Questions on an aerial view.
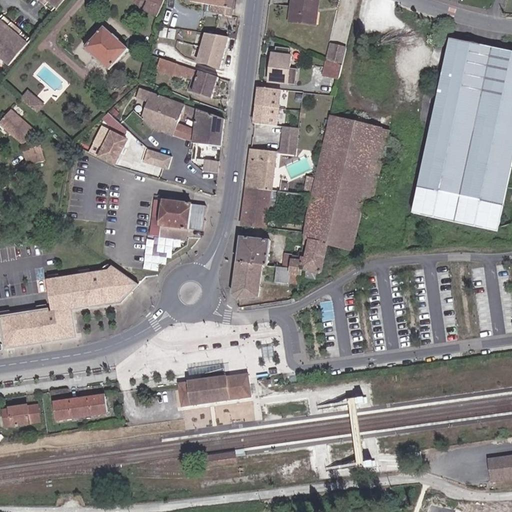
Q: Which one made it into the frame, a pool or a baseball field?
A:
pool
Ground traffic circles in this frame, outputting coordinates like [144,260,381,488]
[160,256,222,322]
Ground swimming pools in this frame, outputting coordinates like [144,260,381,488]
[34,62,70,104]
[274,150,313,188]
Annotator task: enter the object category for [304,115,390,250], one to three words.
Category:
barn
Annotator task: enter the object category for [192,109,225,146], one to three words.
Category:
house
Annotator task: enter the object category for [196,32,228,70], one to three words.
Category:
house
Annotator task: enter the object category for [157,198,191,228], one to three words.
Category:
building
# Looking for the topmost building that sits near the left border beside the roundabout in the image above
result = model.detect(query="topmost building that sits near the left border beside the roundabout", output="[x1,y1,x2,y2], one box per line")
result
[0,266,138,348]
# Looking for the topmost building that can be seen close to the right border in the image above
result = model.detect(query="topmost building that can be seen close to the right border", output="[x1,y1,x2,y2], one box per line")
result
[411,38,512,232]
